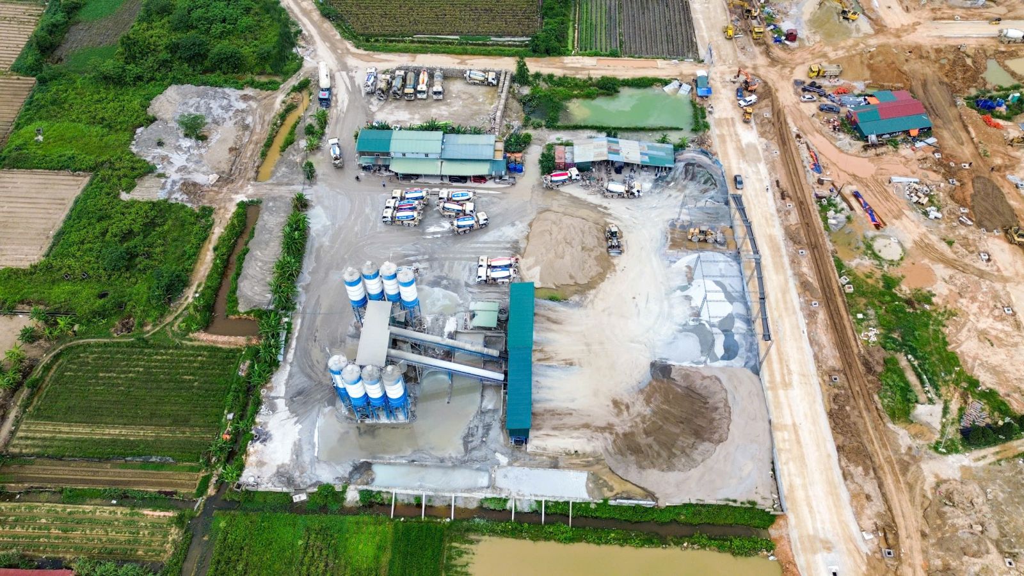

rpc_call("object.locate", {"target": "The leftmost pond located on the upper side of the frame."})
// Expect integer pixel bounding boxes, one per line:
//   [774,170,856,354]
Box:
[561,86,695,134]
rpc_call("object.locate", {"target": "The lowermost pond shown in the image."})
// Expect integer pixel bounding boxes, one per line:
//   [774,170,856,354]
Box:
[470,538,781,576]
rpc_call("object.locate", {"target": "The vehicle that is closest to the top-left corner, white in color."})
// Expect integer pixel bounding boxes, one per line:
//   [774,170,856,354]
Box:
[316,57,329,109]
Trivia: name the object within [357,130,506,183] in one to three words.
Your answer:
building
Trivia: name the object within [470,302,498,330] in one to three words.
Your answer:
shed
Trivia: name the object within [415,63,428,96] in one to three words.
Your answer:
vehicle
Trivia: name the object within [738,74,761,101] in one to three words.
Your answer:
work vehicle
